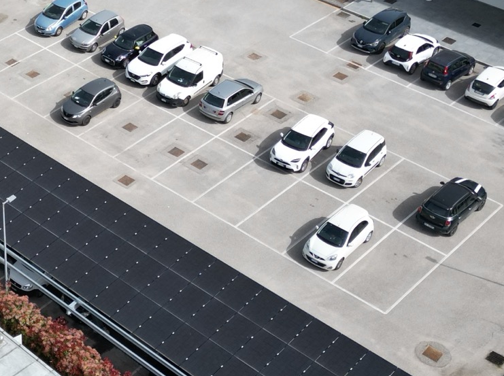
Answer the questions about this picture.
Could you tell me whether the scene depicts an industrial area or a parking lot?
parking lot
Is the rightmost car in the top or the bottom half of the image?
top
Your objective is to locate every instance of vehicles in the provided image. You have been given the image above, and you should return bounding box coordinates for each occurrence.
[353,4,413,52]
[125,33,194,86]
[101,21,162,67]
[33,0,94,36]
[415,175,490,237]
[304,203,377,271]
[196,75,267,124]
[68,7,129,52]
[327,127,393,187]
[465,65,504,109]
[271,113,342,172]
[57,74,123,126]
[385,32,442,74]
[154,44,226,106]
[419,47,475,90]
